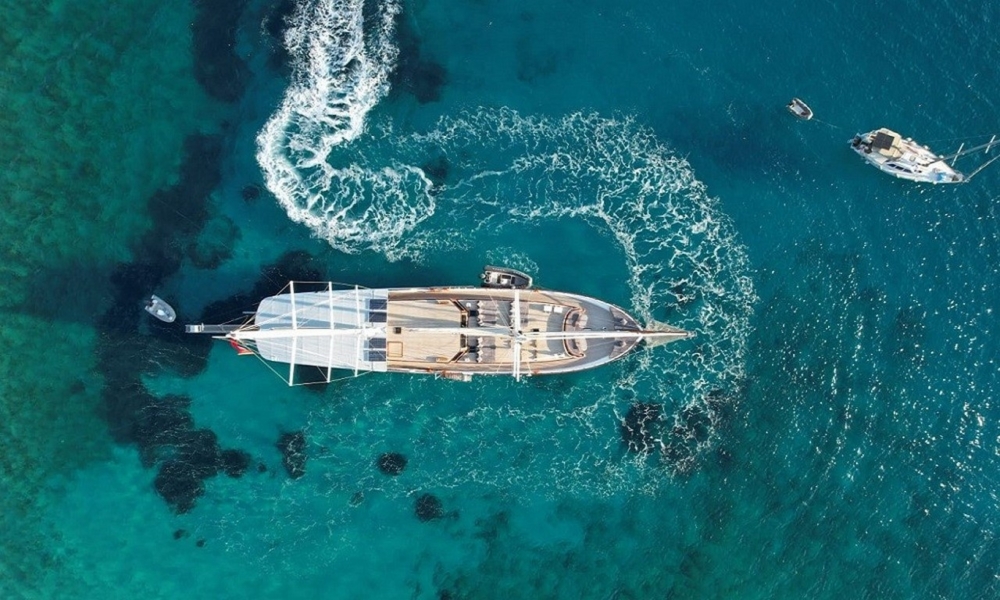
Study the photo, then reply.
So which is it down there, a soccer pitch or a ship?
ship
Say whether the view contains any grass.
No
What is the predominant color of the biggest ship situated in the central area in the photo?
white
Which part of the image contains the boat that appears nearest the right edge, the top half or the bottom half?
top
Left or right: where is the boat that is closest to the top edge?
right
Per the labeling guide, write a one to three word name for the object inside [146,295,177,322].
boat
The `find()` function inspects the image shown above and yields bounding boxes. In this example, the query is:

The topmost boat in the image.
[787,99,812,119]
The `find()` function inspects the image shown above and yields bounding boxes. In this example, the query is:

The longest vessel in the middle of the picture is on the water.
[186,279,698,388]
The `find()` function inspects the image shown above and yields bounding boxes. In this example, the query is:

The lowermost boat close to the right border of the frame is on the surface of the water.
[847,120,1000,185]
